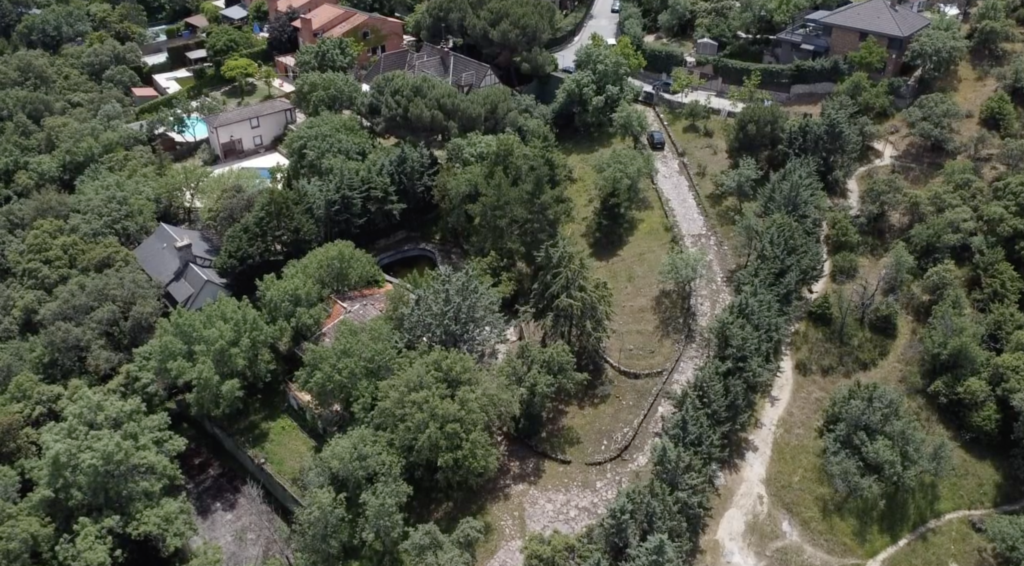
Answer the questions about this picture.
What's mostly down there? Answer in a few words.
trees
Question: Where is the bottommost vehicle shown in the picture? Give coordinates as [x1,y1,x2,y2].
[647,129,667,147]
